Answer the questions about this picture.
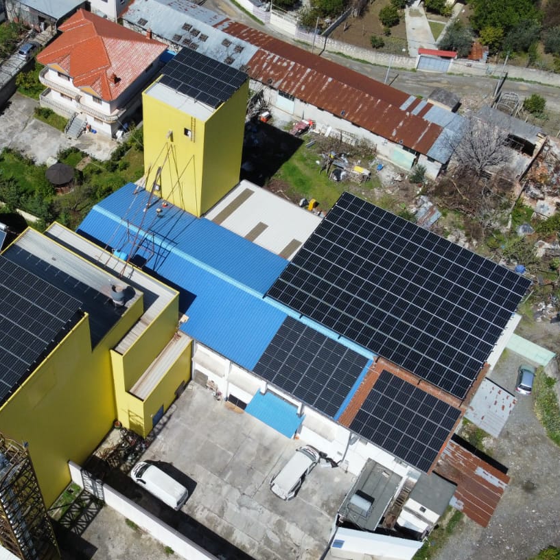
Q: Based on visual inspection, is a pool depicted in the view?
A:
No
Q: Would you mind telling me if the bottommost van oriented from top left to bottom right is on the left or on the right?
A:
left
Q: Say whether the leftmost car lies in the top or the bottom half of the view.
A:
top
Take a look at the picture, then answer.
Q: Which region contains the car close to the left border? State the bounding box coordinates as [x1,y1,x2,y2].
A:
[13,36,40,61]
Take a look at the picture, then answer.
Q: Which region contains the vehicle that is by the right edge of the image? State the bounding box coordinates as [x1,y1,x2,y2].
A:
[512,362,541,400]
